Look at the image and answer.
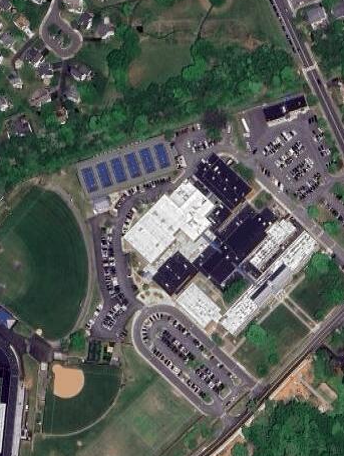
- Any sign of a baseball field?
Yes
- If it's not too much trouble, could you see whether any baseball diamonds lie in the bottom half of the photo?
Yes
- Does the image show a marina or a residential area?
residential area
